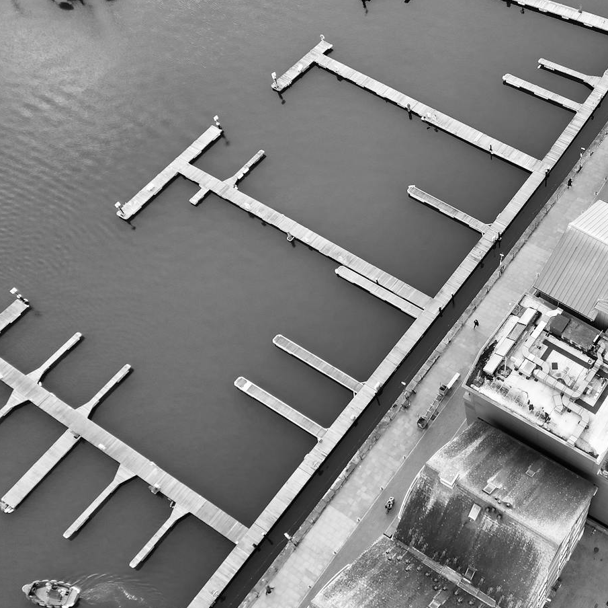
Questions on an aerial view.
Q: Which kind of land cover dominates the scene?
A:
water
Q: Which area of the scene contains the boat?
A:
bottom left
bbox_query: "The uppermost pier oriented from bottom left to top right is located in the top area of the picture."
[272,41,333,93]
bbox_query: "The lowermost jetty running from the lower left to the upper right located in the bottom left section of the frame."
[131,505,191,568]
